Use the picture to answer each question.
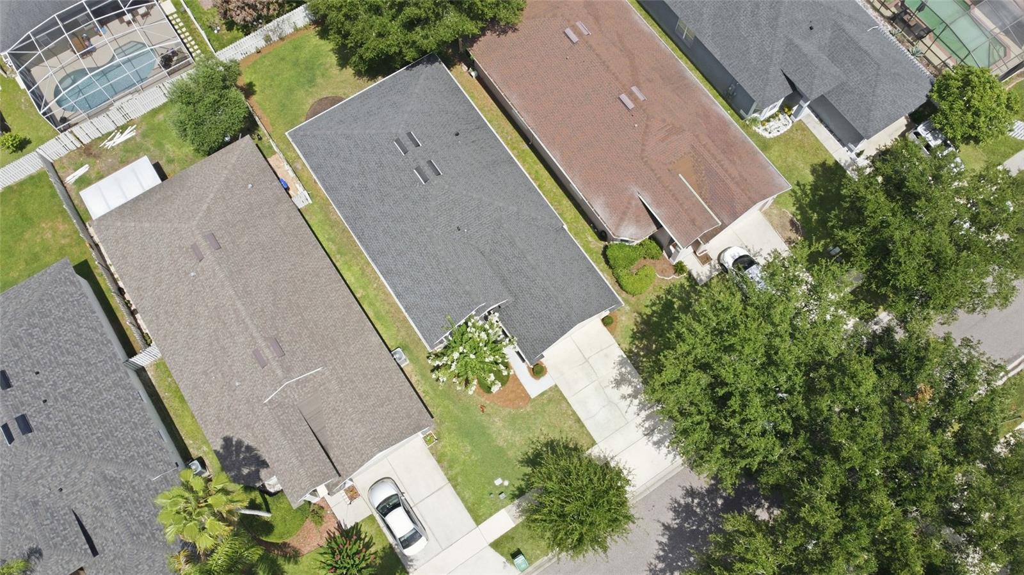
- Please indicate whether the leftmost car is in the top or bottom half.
bottom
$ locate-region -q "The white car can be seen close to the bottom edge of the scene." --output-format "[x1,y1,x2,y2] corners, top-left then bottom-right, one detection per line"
[366,475,431,564]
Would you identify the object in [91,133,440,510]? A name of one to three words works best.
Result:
house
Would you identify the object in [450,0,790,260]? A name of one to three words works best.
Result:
house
